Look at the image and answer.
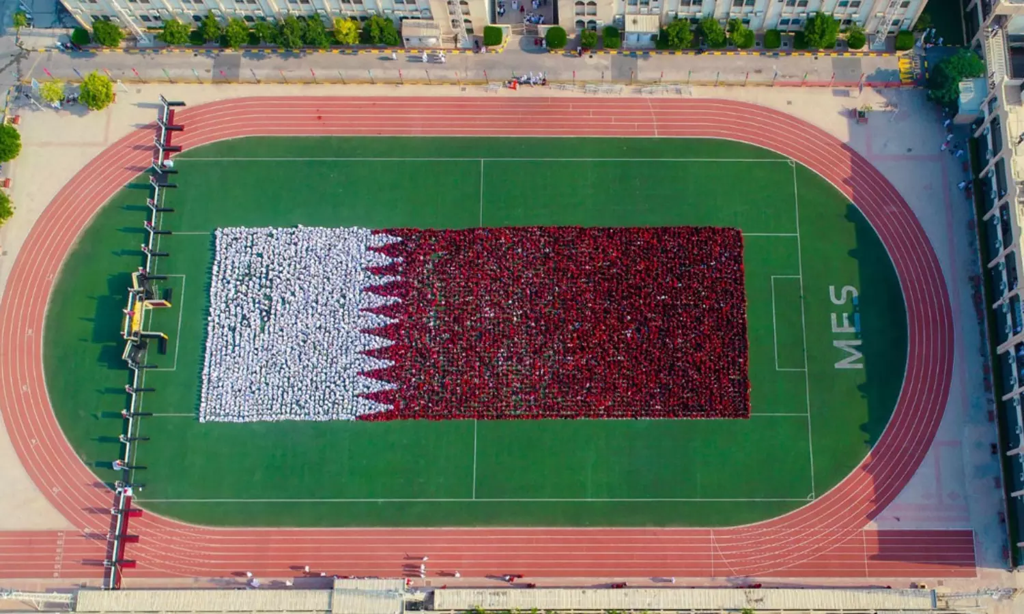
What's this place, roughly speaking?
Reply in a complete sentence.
The area seen from above is a sports ground.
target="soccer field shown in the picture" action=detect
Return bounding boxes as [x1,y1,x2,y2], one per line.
[43,137,907,527]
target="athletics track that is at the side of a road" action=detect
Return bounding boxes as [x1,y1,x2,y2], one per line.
[0,96,977,577]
